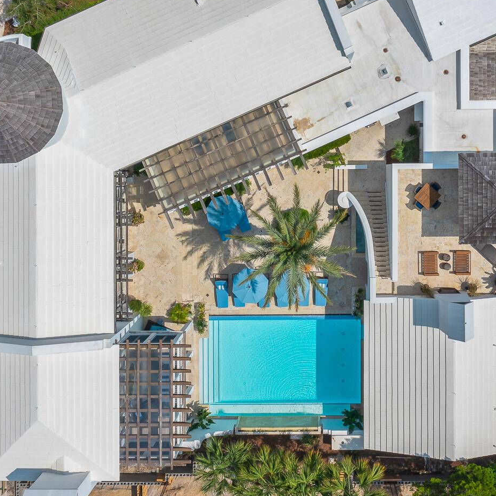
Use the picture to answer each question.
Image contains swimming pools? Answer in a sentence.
Yes, there is a swimming pool in the image.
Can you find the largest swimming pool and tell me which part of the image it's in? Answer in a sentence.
Look in the bottom portion of the view to spot the largest swimming pool.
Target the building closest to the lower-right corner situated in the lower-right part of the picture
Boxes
[361,284,496,461]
